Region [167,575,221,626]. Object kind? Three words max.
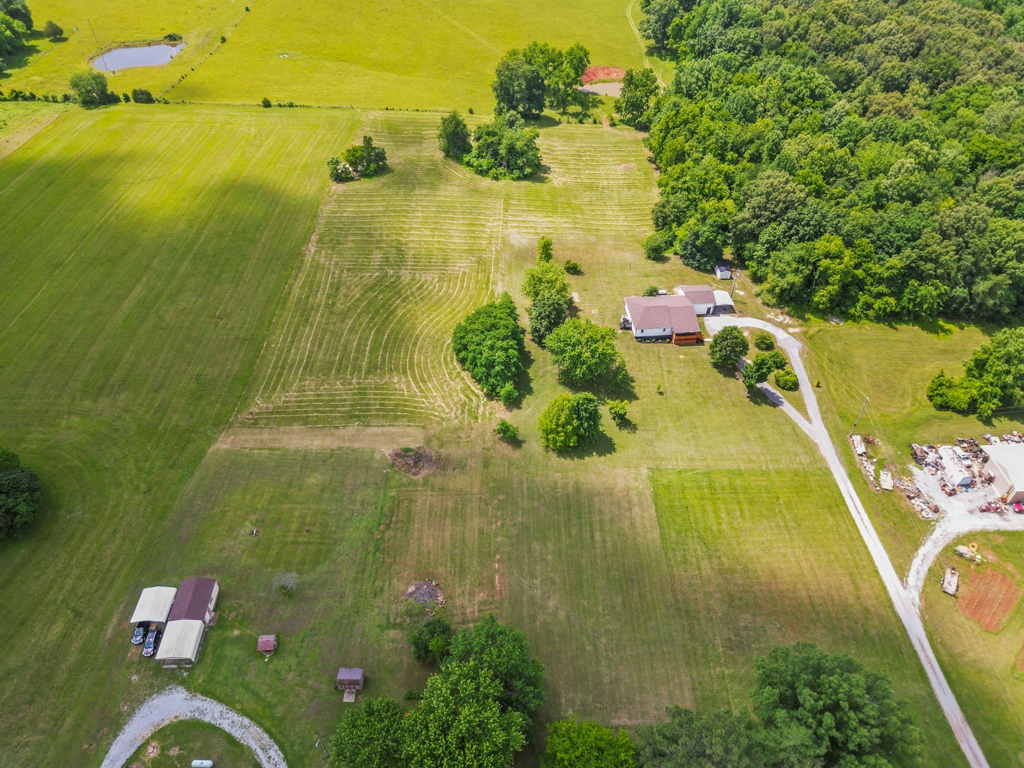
building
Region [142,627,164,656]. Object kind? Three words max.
car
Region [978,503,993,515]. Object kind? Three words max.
vehicle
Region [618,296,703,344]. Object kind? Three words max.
house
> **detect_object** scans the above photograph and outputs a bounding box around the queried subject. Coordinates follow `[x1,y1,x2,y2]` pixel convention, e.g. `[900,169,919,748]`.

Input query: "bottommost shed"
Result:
[336,669,366,690]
